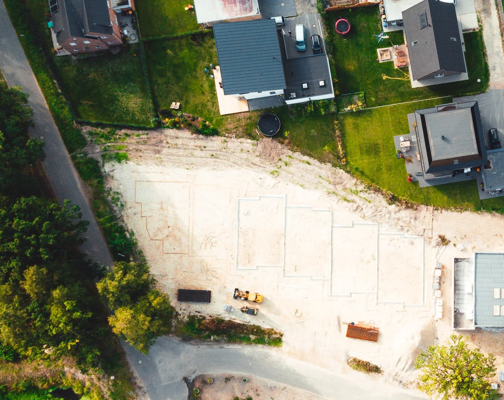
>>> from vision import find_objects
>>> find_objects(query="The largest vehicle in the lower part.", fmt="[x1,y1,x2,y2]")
[230,287,262,304]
